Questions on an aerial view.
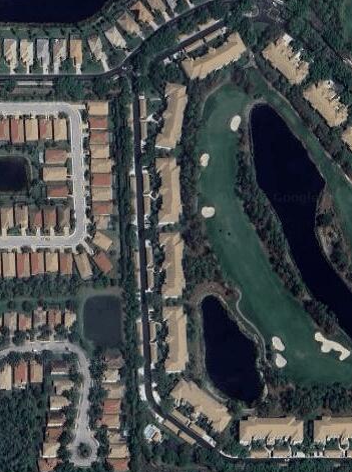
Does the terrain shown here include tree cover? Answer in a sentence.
Yes, there's tree cover in this view.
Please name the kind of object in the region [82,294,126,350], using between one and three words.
pond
